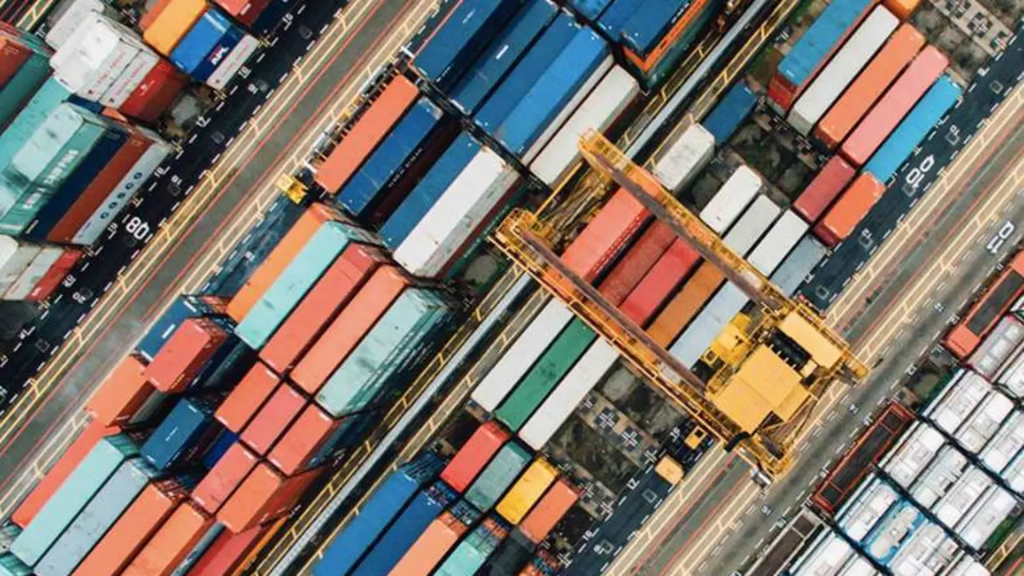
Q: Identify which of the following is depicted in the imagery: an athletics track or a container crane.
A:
container crane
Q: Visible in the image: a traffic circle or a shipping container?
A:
shipping container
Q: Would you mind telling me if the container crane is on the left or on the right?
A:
right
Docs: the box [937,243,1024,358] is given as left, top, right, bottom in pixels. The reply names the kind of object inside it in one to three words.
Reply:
shipping container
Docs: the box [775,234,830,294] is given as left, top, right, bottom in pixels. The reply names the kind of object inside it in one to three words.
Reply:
shipping container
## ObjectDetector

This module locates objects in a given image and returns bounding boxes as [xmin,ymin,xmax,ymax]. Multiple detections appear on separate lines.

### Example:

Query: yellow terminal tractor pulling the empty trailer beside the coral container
[278,153,327,199]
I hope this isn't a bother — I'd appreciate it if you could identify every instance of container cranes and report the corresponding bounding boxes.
[487,121,872,502]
